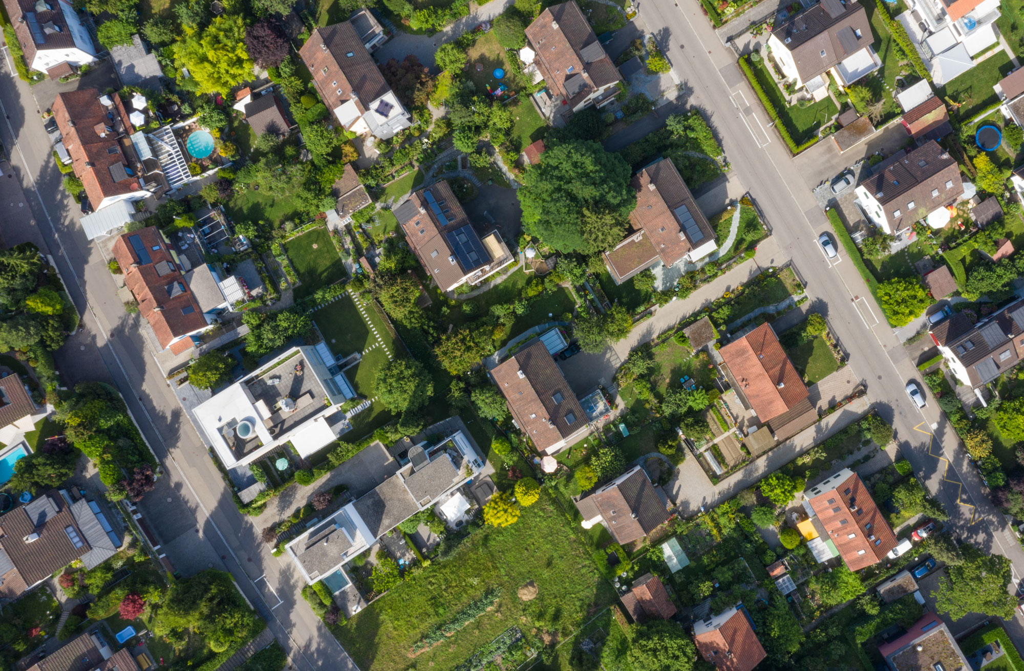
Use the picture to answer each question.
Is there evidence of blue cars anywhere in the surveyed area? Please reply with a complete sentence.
Yes, the picture does show a blue car.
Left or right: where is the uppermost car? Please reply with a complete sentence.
The uppermost car sits on the left side.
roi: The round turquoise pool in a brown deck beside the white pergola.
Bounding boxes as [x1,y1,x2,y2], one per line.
[187,130,218,160]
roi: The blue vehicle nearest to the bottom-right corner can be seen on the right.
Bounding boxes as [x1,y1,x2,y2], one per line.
[910,557,938,581]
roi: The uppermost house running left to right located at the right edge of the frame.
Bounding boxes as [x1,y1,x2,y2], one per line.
[902,0,1001,45]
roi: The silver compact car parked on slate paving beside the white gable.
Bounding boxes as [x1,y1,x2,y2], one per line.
[828,172,855,193]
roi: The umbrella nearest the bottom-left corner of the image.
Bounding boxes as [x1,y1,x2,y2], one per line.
[275,457,289,470]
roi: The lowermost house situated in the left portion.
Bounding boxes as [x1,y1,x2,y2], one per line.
[29,623,149,671]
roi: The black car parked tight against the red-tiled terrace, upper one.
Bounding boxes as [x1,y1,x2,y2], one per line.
[37,111,57,134]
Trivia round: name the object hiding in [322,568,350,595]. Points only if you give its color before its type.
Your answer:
blue swimming pool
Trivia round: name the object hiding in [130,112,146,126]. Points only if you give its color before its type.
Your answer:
white umbrella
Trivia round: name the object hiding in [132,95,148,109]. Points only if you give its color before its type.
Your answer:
white umbrella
